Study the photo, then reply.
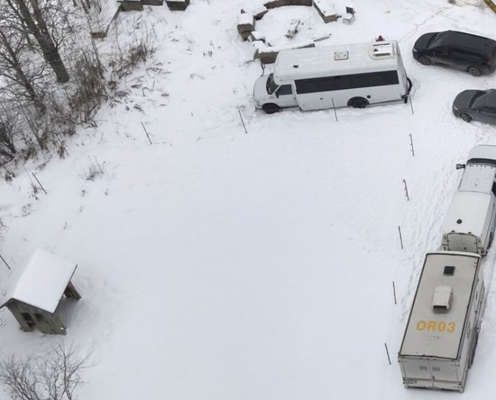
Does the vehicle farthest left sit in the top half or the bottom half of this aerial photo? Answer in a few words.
top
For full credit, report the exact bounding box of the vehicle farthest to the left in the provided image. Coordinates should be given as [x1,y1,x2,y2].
[259,44,417,109]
